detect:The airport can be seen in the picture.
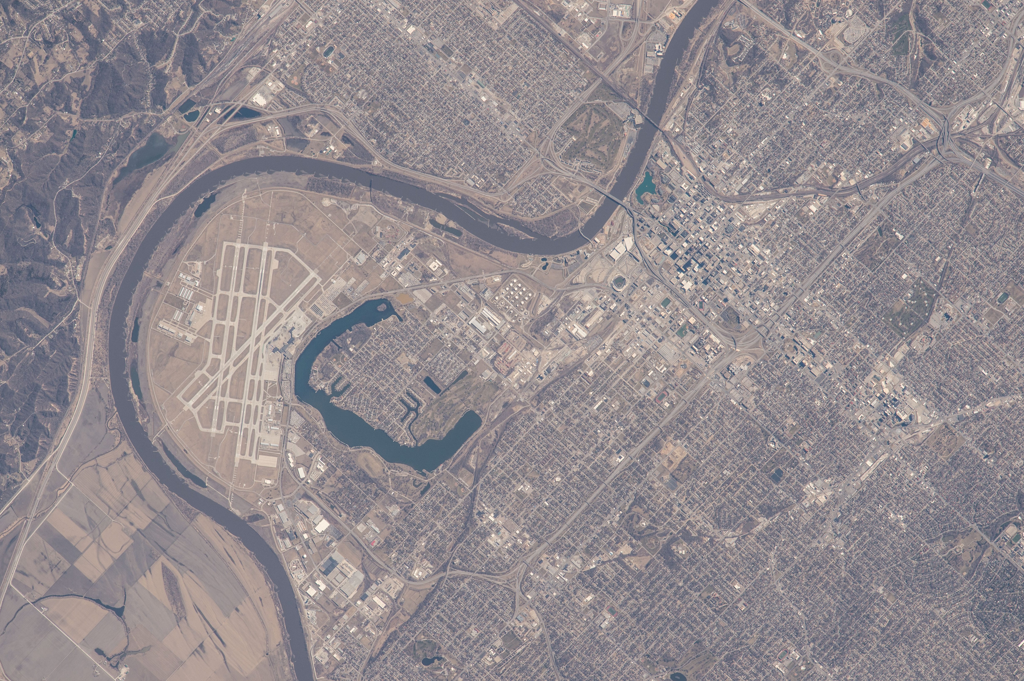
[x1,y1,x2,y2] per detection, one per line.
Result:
[152,189,330,508]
